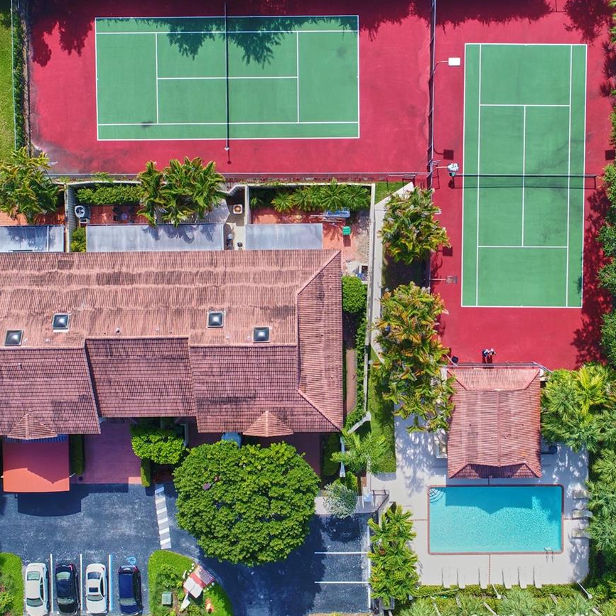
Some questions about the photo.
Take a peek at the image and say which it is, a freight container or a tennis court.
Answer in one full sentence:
It is a tennis court that can be seen here.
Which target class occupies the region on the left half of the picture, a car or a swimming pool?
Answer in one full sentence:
You can see a car on the left half of the picture.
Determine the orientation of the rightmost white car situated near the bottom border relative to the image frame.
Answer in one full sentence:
The rightmost white car situated near the bottom border has been laid out up and down relative to the frame.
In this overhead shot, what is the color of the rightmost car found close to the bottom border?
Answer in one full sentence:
In this view, the rightmost car found close to the bottom border is blue.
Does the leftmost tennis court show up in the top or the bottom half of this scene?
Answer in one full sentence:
You can find the leftmost tennis court in the top half.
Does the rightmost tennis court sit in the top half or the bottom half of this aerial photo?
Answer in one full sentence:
The top half of the photo is where the rightmost tennis court is.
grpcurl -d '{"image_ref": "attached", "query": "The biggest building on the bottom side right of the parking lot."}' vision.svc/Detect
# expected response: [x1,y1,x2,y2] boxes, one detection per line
[445,367,543,479]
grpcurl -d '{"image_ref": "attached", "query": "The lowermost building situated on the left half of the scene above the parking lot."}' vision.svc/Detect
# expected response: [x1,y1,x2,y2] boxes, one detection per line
[0,250,344,438]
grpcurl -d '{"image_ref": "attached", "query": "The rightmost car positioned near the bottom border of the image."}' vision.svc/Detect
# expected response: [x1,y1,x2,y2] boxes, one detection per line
[117,563,142,616]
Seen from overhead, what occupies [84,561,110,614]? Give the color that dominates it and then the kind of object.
white car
